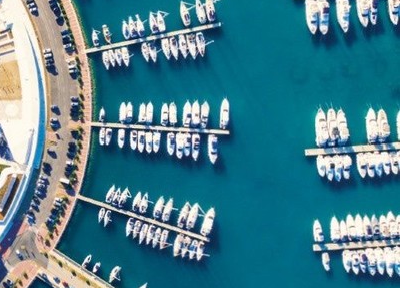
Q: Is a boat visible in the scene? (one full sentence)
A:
Yes, the frame does contain a boat.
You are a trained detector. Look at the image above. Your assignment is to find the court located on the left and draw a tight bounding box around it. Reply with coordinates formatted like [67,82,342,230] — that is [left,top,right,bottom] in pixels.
[0,60,22,101]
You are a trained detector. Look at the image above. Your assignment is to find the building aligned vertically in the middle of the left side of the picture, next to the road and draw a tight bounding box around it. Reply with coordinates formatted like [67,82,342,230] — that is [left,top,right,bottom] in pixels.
[0,25,45,245]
